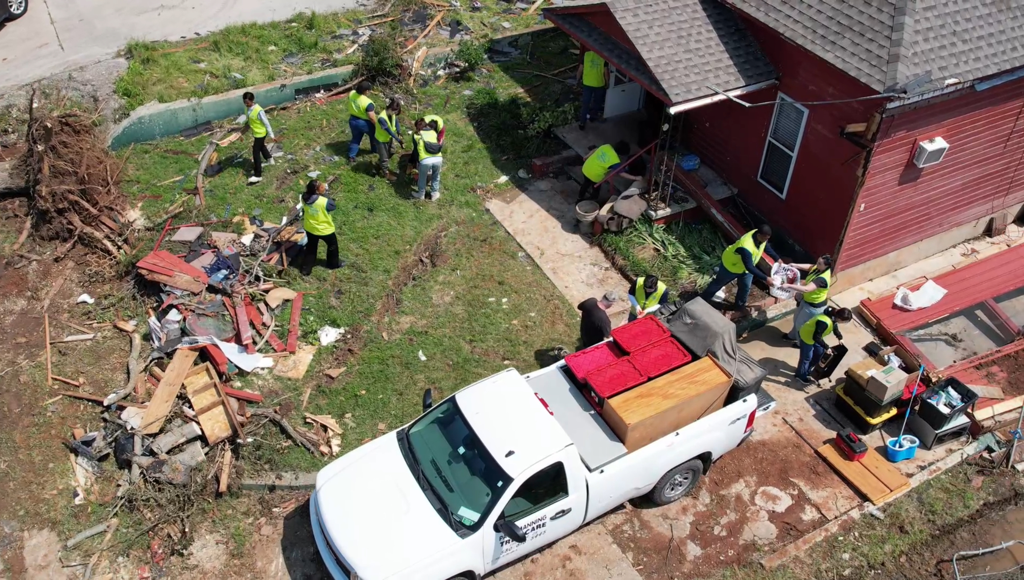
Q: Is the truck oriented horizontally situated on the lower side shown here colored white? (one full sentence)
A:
Yes, white is the color of the truck oriented horizontally situated on the lower side.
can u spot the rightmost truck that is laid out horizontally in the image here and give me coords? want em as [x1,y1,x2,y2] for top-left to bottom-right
[305,340,777,580]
